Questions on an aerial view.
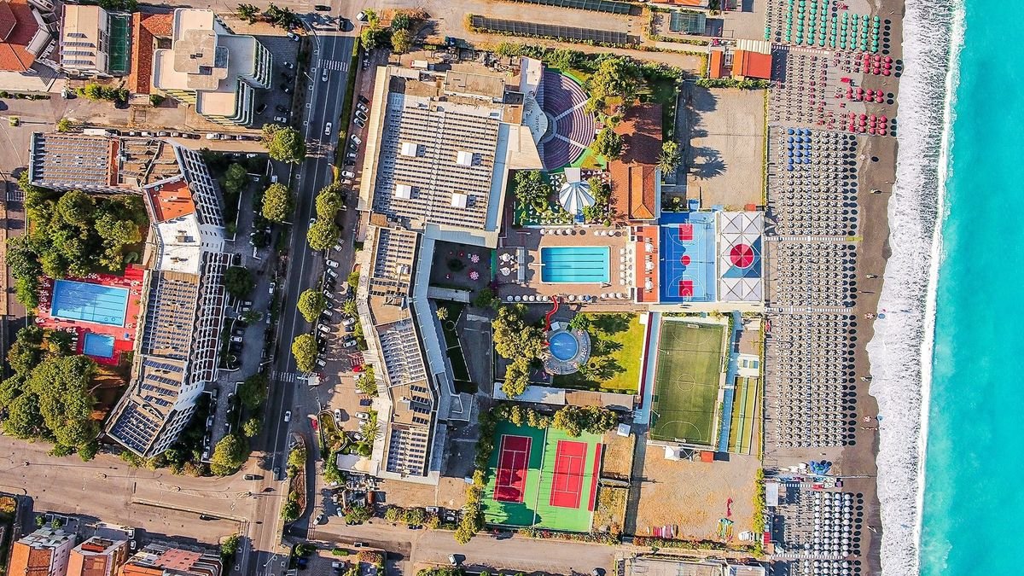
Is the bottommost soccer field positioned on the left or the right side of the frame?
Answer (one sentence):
You can find the bottommost soccer field on the right side of the picture.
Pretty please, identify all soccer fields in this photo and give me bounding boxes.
[108,13,130,75]
[650,320,725,446]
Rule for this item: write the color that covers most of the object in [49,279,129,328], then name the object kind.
blue swimming pool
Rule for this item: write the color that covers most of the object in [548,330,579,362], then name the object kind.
blue swimming pool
